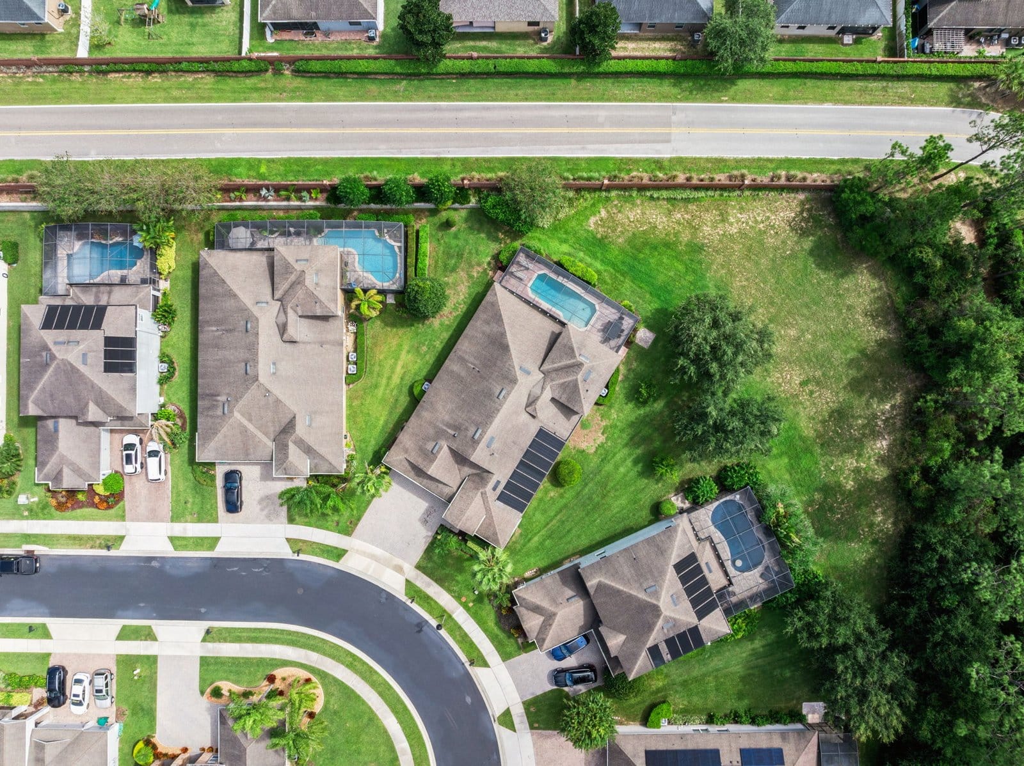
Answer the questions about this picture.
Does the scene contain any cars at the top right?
No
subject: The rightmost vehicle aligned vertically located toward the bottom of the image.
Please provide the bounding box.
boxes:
[223,470,244,513]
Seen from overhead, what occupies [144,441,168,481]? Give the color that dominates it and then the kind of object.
white car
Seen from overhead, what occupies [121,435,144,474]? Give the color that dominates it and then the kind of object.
white car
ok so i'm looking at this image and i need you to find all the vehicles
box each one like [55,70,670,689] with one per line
[223,470,244,513]
[121,435,144,474]
[553,664,595,688]
[548,633,590,662]
[144,441,168,481]
[93,667,116,707]
[70,671,93,714]
[45,664,70,706]
[0,555,41,576]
